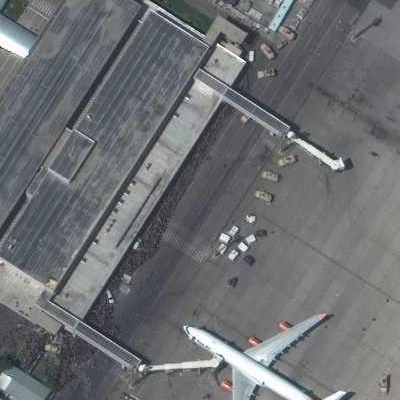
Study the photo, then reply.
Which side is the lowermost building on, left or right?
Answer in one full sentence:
It is on the left.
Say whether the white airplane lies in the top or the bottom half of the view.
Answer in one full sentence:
It is in the bottom half that the white airplane appears.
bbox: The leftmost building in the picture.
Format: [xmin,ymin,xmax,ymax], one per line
[0,367,52,400]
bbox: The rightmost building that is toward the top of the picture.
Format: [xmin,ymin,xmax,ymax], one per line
[269,0,295,33]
